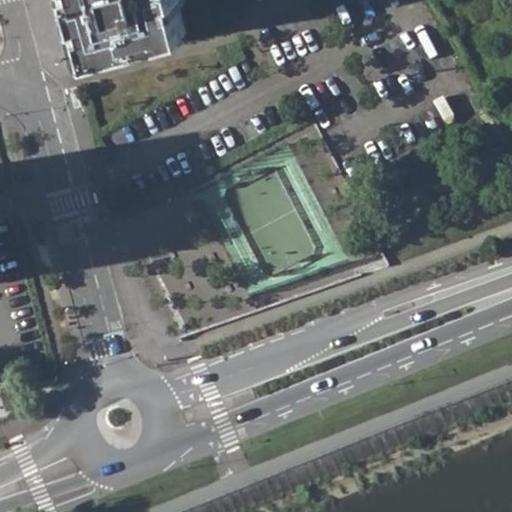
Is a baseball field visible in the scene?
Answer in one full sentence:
No, this view has no baseball field in it.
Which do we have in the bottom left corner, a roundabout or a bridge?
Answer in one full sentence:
The one visible in the bottom left corner is a roundabout.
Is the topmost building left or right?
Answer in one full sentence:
The topmost building appears in the left half of the scene.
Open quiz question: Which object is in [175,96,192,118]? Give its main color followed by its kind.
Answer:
red car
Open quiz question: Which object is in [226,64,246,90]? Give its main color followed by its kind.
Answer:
white vehicle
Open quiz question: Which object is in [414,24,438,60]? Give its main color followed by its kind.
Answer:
white camper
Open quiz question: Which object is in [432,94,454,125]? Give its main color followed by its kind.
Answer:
white truck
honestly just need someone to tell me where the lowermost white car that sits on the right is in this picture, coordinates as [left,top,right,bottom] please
[311,377,332,391]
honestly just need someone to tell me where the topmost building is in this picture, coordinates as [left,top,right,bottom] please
[53,0,186,78]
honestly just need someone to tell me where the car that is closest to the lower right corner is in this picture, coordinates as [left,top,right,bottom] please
[412,338,434,352]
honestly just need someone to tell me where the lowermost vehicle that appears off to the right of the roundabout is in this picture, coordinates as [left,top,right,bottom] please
[237,408,260,422]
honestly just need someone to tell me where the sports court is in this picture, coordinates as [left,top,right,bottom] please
[211,150,350,297]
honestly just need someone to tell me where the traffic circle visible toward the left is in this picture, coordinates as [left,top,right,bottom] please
[93,387,147,453]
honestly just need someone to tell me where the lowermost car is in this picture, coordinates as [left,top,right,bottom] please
[98,462,120,475]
